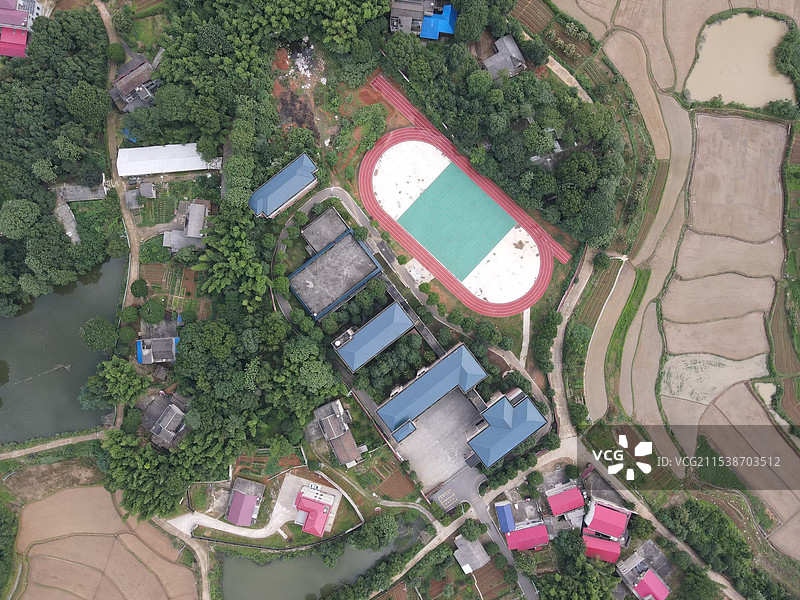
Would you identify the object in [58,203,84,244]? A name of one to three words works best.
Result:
shed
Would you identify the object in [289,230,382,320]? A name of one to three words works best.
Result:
building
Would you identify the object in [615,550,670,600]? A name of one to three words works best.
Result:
house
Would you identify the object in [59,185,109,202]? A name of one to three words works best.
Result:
shed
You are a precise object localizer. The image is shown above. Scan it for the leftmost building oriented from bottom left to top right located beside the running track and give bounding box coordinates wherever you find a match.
[248,152,320,218]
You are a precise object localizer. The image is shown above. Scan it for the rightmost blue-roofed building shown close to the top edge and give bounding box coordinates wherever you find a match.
[420,5,457,41]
